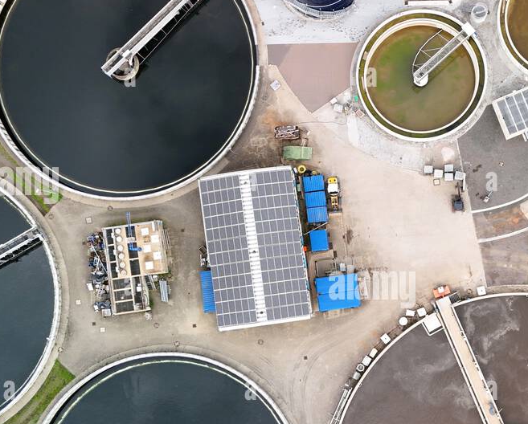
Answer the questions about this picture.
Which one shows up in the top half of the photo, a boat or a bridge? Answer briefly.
bridge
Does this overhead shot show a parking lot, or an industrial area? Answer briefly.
industrial area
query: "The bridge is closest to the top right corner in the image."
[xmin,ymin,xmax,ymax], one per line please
[412,20,483,87]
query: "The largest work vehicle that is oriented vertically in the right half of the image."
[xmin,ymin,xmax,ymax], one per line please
[326,174,340,214]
